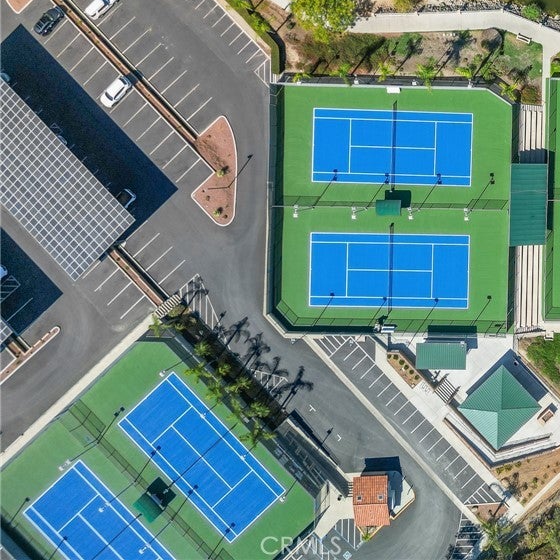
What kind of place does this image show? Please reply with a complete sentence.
It's a sports ground.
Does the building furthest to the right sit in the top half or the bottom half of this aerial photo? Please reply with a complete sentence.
It is in the bottom half that the building furthest to the right appears.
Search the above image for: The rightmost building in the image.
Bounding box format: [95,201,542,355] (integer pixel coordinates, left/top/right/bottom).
[457,363,541,450]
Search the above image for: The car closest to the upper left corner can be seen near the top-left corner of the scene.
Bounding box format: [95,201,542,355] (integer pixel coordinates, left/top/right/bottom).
[26,5,62,35]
